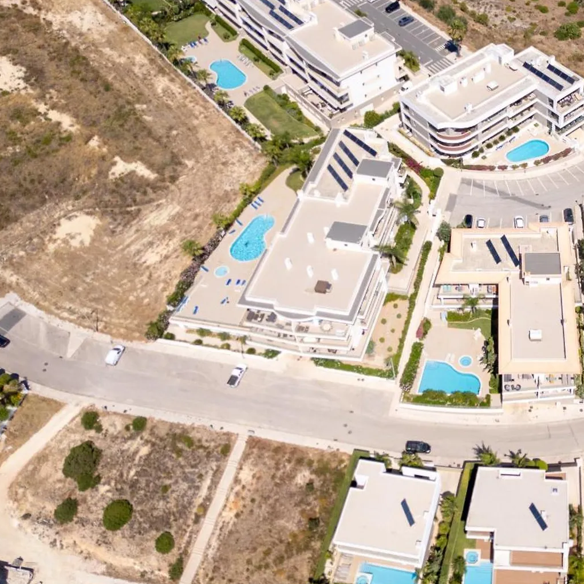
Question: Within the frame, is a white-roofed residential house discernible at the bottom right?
Yes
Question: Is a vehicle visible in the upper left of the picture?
No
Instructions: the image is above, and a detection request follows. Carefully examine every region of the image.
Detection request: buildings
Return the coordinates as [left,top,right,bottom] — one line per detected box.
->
[432,223,582,408]
[334,458,441,576]
[466,466,568,578]
[400,42,584,166]
[206,0,406,125]
[238,126,414,366]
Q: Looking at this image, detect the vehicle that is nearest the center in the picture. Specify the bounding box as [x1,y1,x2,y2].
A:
[222,362,251,389]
